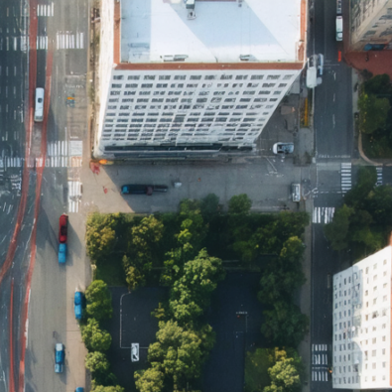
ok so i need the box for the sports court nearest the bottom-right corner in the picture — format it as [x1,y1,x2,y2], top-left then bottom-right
[216,265,262,392]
